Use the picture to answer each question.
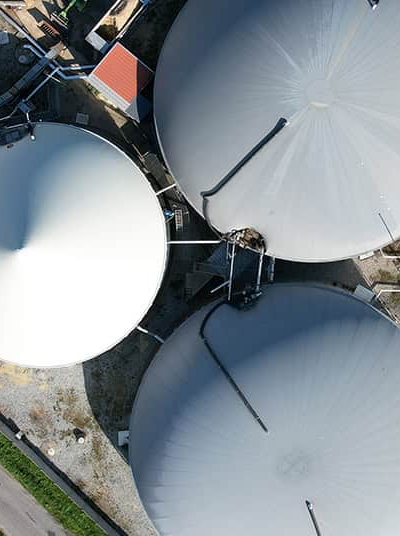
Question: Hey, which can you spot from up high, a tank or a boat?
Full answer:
There is a tank in the scene.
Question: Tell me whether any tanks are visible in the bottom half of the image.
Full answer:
Yes, a tank can be seen in the bottom half of the image.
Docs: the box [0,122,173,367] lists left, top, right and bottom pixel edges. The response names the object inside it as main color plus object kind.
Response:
white storage tank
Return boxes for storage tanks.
[130,281,400,536]
[155,0,400,261]
[0,122,173,367]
